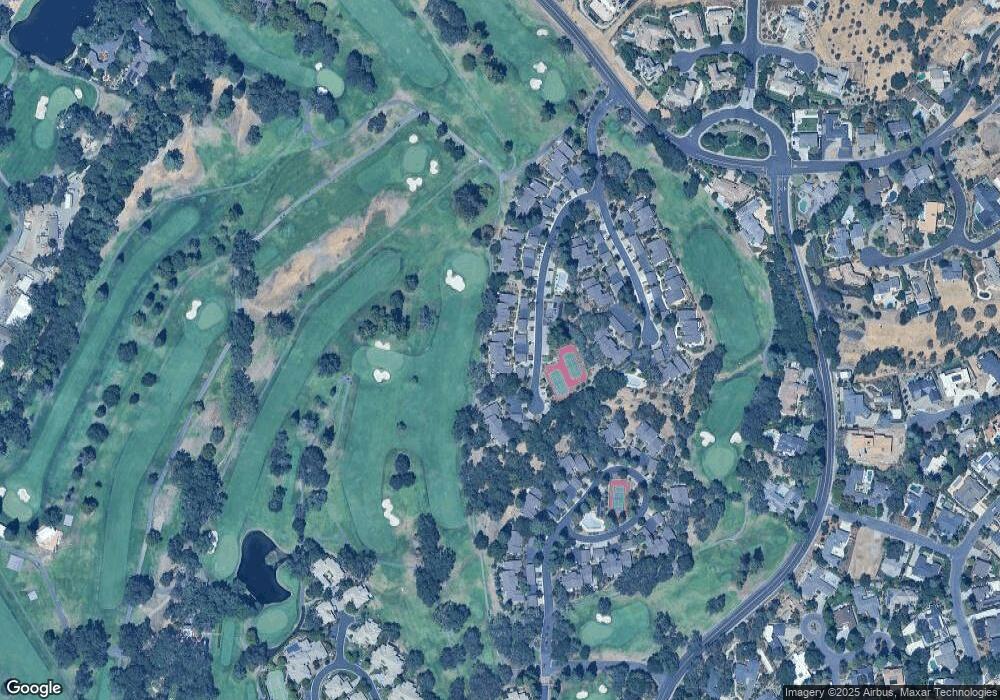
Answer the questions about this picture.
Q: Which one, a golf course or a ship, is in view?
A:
golf course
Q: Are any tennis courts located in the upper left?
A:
No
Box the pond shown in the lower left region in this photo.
[237,529,292,603]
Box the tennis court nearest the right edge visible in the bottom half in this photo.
[608,479,631,515]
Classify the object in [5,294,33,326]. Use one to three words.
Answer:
shed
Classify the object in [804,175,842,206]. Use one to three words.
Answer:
house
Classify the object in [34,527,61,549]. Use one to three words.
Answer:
building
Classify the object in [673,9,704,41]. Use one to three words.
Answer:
house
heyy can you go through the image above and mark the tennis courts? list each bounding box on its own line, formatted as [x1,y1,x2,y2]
[608,479,631,515]
[544,362,570,401]
[559,344,588,391]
